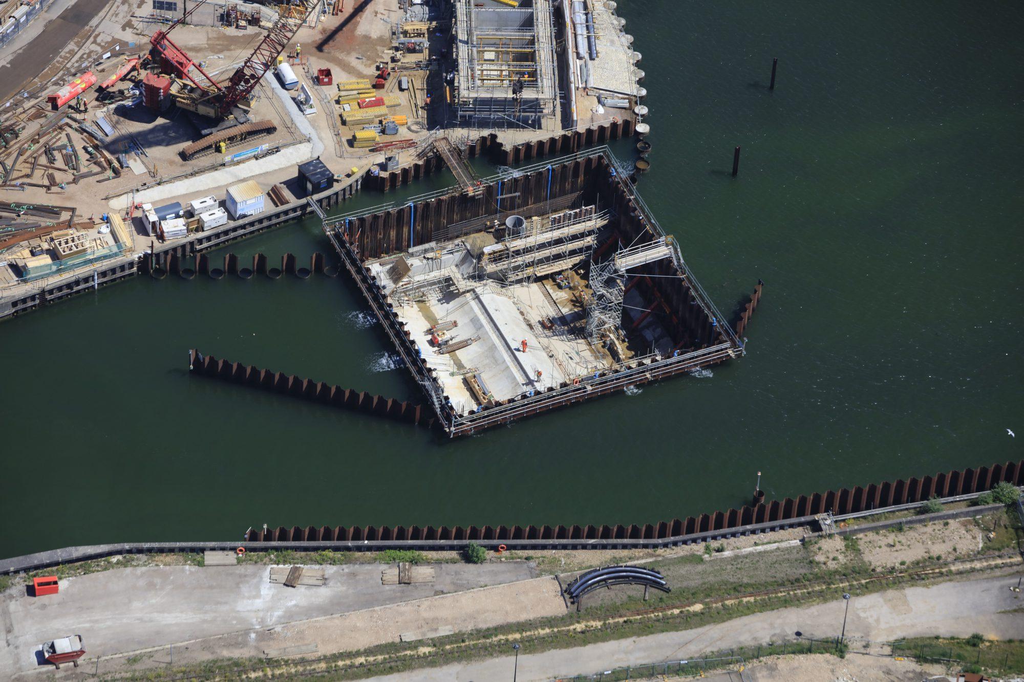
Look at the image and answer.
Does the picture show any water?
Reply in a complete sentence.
Yes, water shows up in the scene.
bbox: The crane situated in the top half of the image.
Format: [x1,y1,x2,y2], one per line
[141,0,321,155]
